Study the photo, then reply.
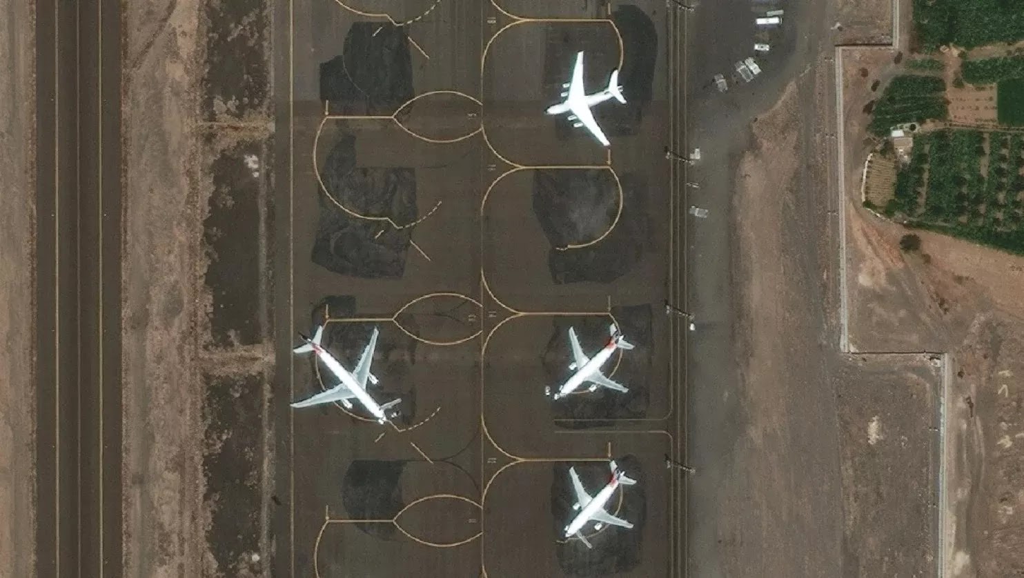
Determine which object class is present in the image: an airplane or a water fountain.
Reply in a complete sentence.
Looking from above, you can make out an airplane.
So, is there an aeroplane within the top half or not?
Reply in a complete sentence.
Yes, I can see an aeroplane within the top half.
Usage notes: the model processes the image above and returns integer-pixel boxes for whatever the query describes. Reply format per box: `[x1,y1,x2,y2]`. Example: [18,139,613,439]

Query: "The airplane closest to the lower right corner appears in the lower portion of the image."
[564,462,634,537]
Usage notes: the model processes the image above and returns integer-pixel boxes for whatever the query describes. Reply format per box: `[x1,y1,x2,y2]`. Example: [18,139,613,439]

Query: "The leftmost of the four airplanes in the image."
[290,326,385,418]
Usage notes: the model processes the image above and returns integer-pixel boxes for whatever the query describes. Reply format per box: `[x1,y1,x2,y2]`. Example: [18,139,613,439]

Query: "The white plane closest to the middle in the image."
[558,325,633,396]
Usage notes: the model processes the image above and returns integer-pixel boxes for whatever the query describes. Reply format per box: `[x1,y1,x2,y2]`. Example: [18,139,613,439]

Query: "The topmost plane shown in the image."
[545,51,626,145]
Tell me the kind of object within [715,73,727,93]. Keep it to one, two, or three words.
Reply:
vehicle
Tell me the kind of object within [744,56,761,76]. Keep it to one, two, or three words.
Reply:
work vehicle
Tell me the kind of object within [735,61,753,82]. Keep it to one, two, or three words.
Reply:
work vehicle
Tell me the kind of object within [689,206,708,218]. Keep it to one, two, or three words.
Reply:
vehicle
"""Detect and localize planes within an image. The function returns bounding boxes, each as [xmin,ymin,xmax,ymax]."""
[545,51,626,145]
[290,326,385,418]
[564,462,634,537]
[558,325,633,396]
